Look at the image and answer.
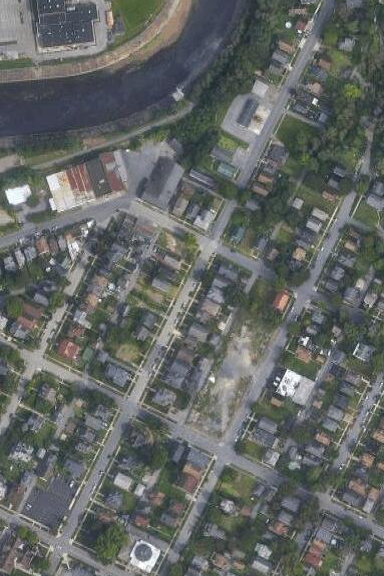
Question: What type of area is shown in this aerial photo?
residential area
